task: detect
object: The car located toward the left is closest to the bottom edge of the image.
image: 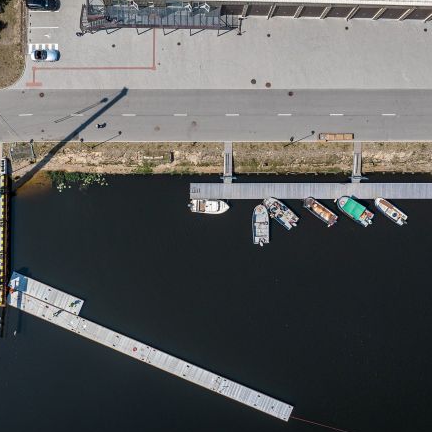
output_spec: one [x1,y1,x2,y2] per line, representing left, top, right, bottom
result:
[32,48,59,62]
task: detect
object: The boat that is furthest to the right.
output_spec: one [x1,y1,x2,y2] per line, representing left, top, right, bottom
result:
[377,199,411,227]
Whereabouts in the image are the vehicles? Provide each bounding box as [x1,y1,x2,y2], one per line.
[27,0,61,12]
[32,48,59,62]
